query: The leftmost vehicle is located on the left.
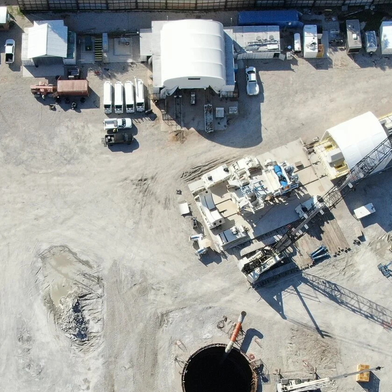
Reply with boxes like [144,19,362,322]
[3,38,16,67]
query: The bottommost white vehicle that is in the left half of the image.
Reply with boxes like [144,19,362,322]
[103,117,133,130]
